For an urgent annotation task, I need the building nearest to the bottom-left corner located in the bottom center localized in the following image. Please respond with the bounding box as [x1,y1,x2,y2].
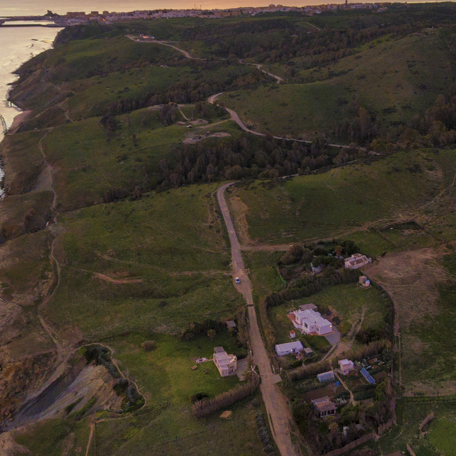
[212,348,237,377]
